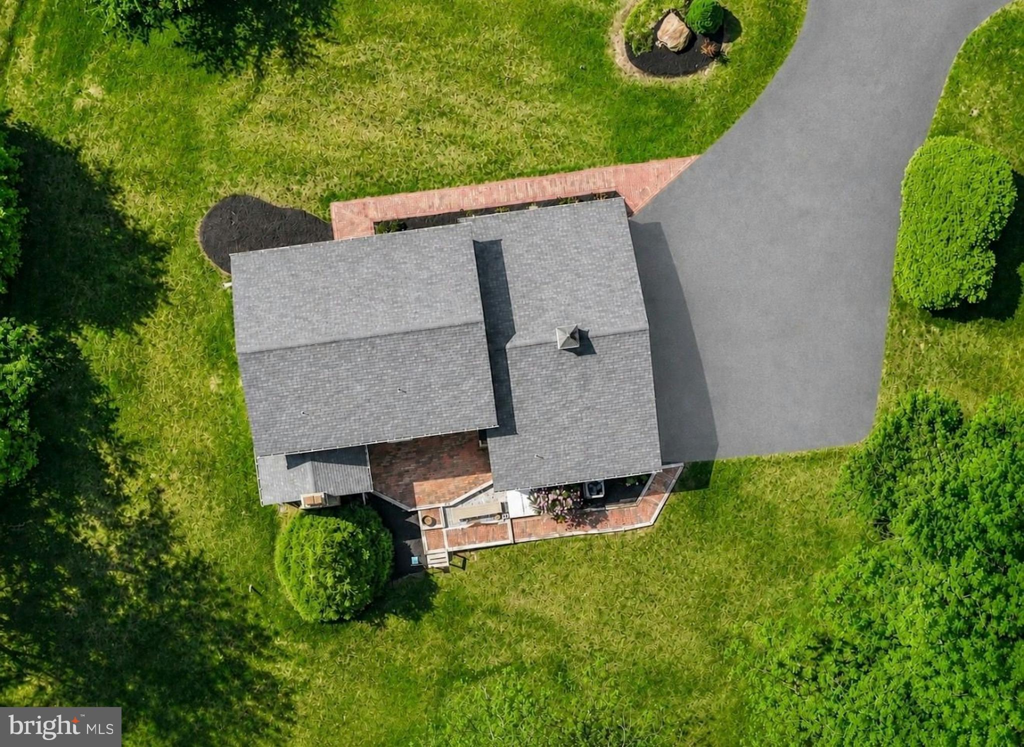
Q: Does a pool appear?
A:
No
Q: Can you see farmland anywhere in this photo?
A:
No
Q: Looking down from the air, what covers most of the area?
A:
grass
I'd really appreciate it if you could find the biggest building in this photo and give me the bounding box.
[225,195,662,508]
